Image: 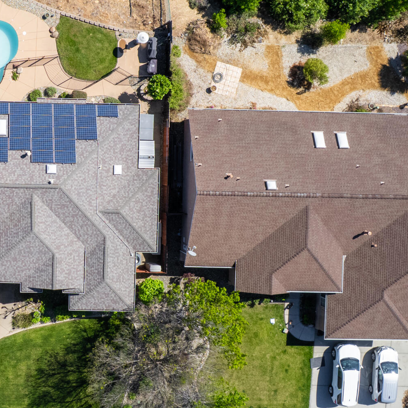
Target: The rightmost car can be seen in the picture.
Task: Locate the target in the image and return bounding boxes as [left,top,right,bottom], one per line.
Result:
[369,345,403,404]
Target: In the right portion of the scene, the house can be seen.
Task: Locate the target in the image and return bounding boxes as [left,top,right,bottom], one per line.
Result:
[180,106,408,341]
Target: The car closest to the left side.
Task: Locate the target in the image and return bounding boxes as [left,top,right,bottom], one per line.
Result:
[330,341,366,407]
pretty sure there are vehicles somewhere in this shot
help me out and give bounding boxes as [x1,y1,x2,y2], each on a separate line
[330,341,366,407]
[369,345,403,404]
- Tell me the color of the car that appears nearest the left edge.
white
